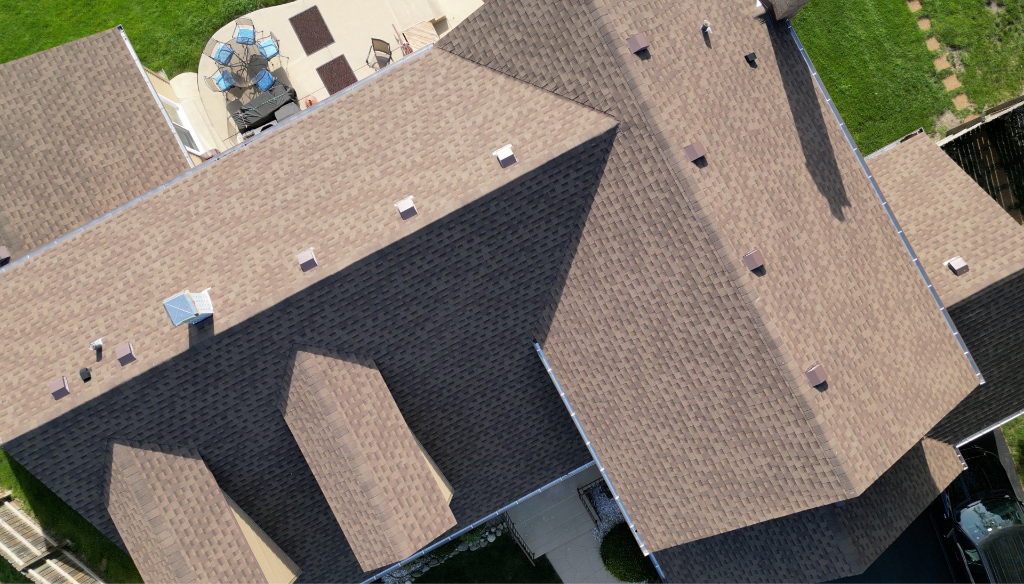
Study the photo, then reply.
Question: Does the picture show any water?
No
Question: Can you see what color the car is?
black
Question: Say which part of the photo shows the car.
bottom right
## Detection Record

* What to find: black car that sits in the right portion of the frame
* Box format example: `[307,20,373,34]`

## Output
[932,440,1024,584]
